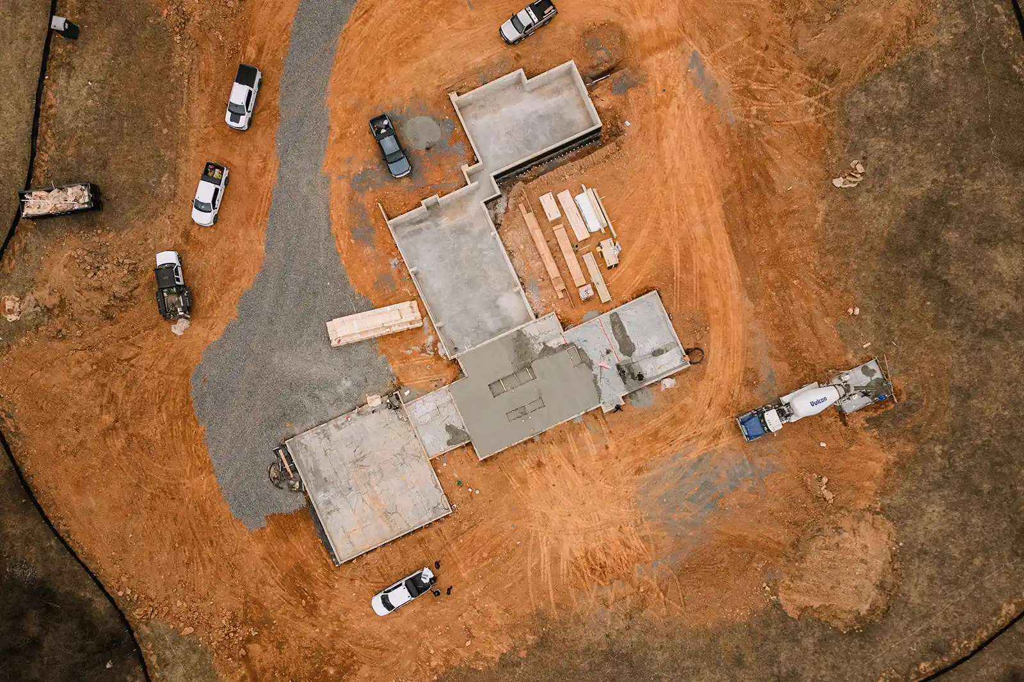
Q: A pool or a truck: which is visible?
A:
truck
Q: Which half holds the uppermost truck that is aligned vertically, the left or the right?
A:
left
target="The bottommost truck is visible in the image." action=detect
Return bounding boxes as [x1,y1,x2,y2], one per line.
[369,564,437,617]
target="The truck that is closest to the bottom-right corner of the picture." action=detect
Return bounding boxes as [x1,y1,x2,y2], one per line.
[738,377,861,443]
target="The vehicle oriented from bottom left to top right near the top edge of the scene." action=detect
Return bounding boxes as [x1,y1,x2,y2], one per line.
[499,0,561,46]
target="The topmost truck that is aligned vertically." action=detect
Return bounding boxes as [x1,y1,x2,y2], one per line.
[225,61,262,131]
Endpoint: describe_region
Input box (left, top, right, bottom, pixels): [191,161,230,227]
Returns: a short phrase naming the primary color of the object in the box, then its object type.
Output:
white truck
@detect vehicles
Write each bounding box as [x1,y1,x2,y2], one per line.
[369,564,437,617]
[191,161,230,227]
[151,254,194,321]
[738,377,861,443]
[225,61,262,131]
[367,112,414,178]
[499,0,561,46]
